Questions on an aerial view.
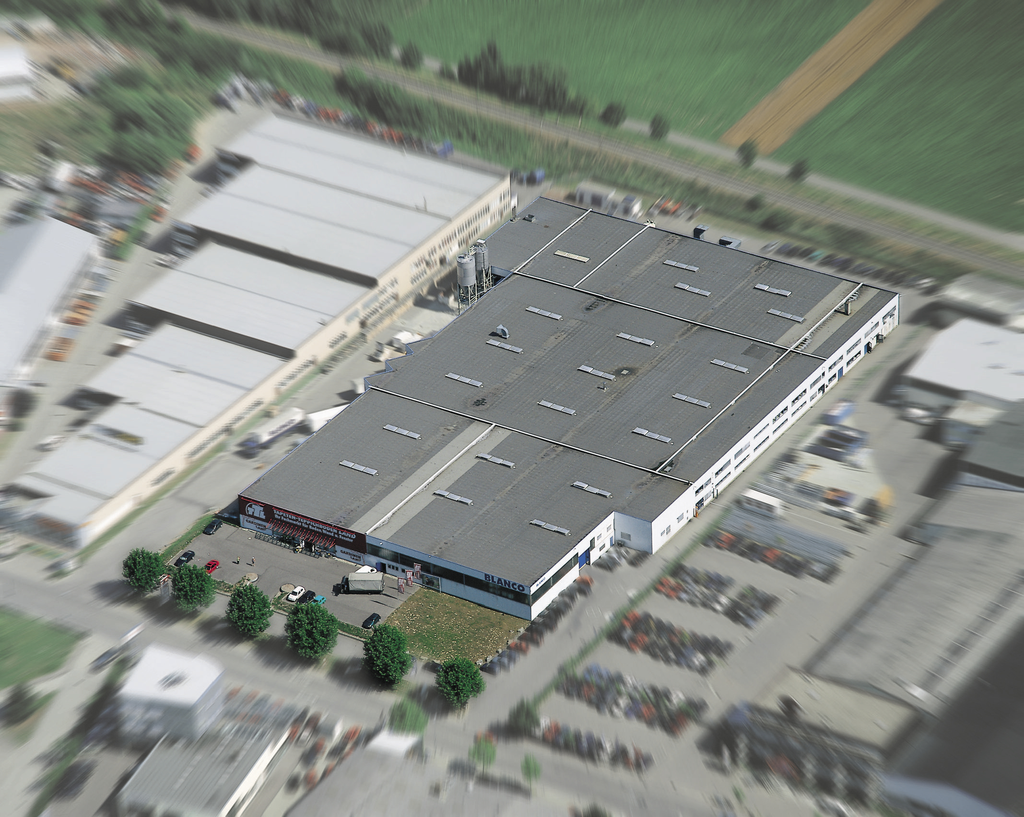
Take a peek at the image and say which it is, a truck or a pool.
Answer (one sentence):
Looking from above, you can make out a truck.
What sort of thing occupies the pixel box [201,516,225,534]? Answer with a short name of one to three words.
car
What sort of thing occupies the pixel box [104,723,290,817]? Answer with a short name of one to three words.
shed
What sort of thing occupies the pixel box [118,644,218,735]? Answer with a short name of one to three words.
building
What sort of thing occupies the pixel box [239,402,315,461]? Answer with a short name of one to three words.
truck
